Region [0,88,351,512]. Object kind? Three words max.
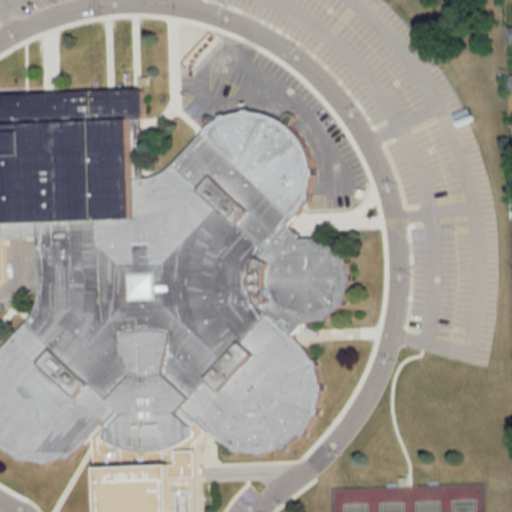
building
